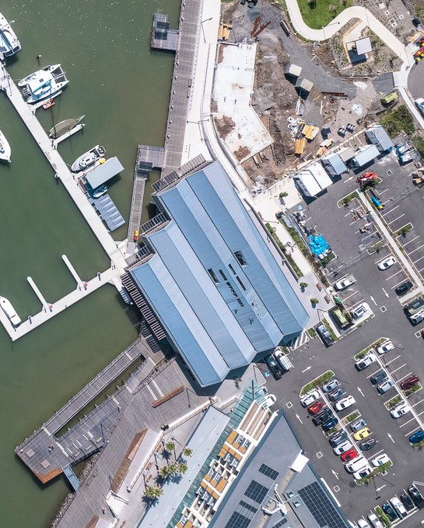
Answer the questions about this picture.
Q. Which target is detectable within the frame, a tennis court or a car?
car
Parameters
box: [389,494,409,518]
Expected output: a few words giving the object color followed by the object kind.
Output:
white vehicle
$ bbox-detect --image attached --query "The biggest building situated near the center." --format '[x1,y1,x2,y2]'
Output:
[123,162,309,388]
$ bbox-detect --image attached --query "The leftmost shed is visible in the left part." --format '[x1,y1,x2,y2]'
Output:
[78,156,124,201]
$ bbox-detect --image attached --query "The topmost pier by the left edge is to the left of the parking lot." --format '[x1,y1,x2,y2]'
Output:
[0,256,128,340]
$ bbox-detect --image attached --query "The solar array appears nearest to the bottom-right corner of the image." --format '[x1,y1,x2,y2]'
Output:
[299,481,346,528]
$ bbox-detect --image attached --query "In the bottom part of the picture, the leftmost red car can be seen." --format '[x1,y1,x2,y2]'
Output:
[307,401,325,415]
